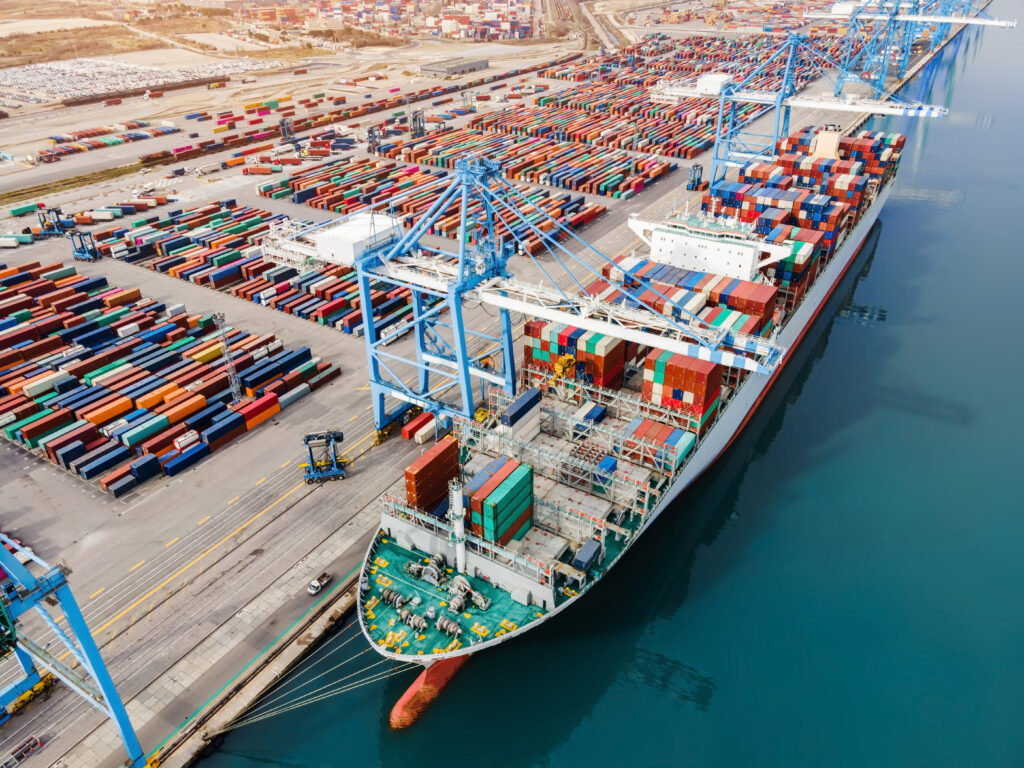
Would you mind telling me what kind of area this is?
port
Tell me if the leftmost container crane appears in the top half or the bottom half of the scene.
bottom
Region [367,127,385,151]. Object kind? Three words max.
work vehicle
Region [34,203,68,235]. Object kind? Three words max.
work vehicle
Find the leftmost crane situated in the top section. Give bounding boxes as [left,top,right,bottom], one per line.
[249,143,782,442]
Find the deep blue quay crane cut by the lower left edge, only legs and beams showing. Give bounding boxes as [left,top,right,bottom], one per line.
[0,529,171,768]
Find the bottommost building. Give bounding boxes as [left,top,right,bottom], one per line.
[388,55,487,81]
